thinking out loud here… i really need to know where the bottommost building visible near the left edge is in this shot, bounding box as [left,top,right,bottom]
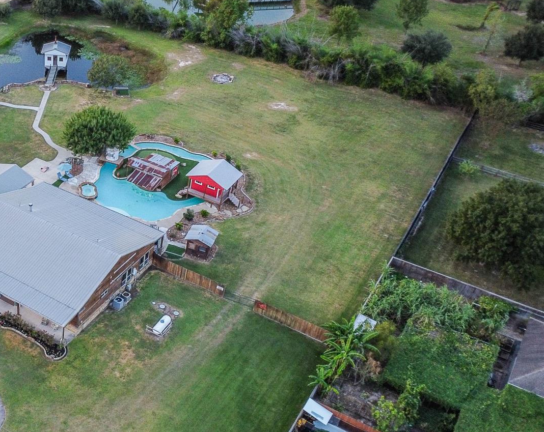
[0,179,164,343]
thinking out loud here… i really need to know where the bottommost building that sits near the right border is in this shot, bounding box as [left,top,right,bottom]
[507,324,544,403]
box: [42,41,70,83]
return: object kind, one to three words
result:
building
